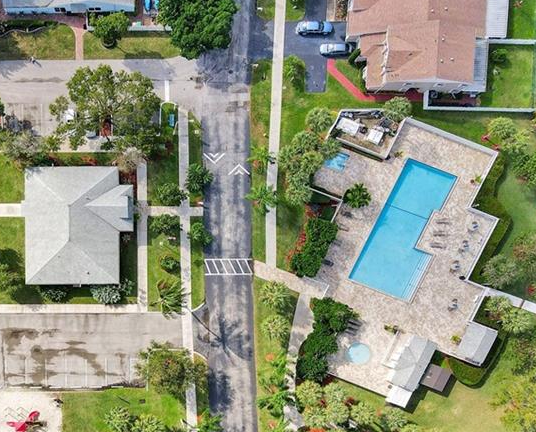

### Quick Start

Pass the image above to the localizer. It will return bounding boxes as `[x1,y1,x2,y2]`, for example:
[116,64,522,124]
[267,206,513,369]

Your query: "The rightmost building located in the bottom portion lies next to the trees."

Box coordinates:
[453,321,498,366]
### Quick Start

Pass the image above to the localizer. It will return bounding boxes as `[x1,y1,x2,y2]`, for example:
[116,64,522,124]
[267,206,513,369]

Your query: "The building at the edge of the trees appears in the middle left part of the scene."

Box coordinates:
[25,166,134,284]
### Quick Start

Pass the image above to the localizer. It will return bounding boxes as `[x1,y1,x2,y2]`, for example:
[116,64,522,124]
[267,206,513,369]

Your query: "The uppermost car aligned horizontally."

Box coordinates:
[297,21,332,36]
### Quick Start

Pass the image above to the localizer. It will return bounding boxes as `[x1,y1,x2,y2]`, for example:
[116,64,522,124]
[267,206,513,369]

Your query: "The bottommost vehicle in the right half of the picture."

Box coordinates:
[318,41,351,57]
